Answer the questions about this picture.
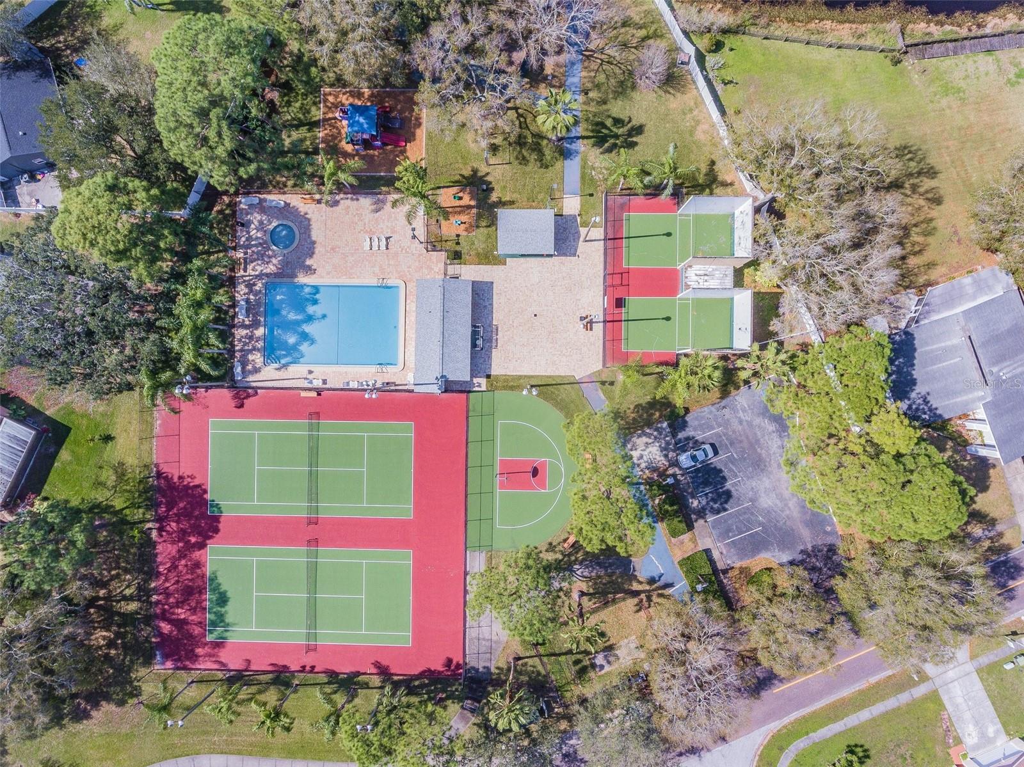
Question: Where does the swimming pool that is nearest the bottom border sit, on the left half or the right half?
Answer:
left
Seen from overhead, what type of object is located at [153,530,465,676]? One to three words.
tennis court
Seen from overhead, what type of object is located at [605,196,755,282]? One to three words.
sports court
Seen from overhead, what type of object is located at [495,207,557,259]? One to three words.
building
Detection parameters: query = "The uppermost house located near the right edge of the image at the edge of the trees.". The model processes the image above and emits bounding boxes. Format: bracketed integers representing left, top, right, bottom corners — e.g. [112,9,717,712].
[888,267,1024,465]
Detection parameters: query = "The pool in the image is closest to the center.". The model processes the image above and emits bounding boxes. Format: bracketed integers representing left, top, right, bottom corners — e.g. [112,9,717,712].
[263,276,405,371]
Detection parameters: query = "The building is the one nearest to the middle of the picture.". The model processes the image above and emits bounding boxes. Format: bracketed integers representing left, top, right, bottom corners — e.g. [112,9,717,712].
[414,279,472,392]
